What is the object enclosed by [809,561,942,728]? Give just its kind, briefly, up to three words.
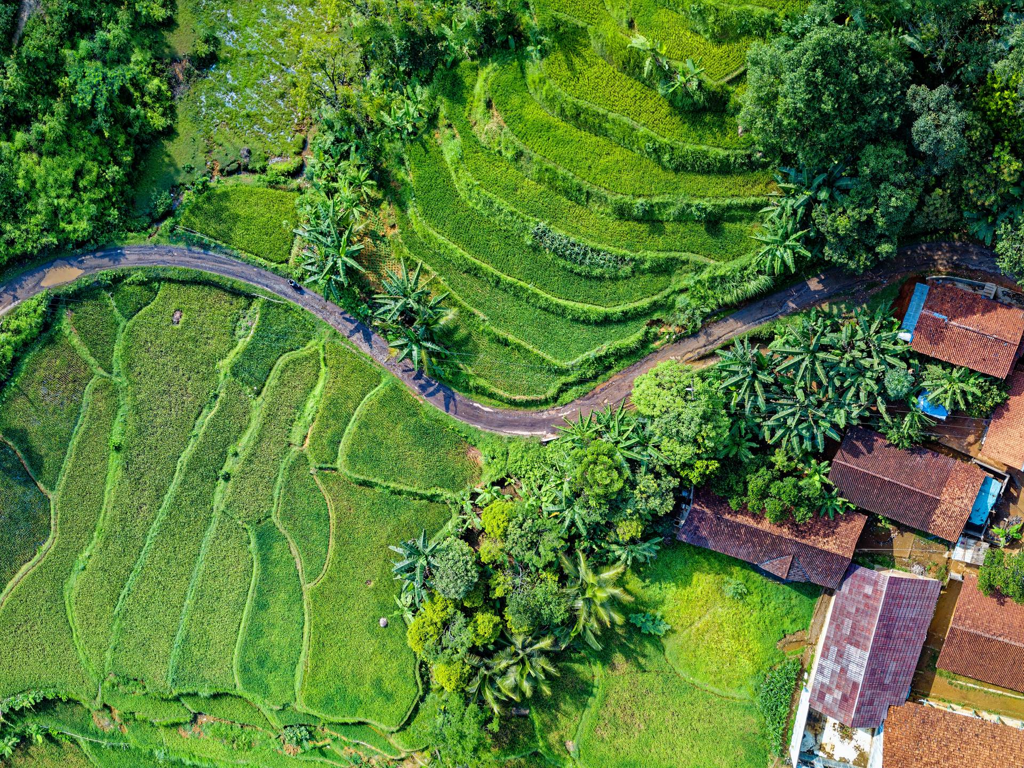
house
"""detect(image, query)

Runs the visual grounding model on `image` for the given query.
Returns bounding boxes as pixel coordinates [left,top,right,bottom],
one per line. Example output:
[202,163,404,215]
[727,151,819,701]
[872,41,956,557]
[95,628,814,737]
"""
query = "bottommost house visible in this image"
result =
[880,699,1024,768]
